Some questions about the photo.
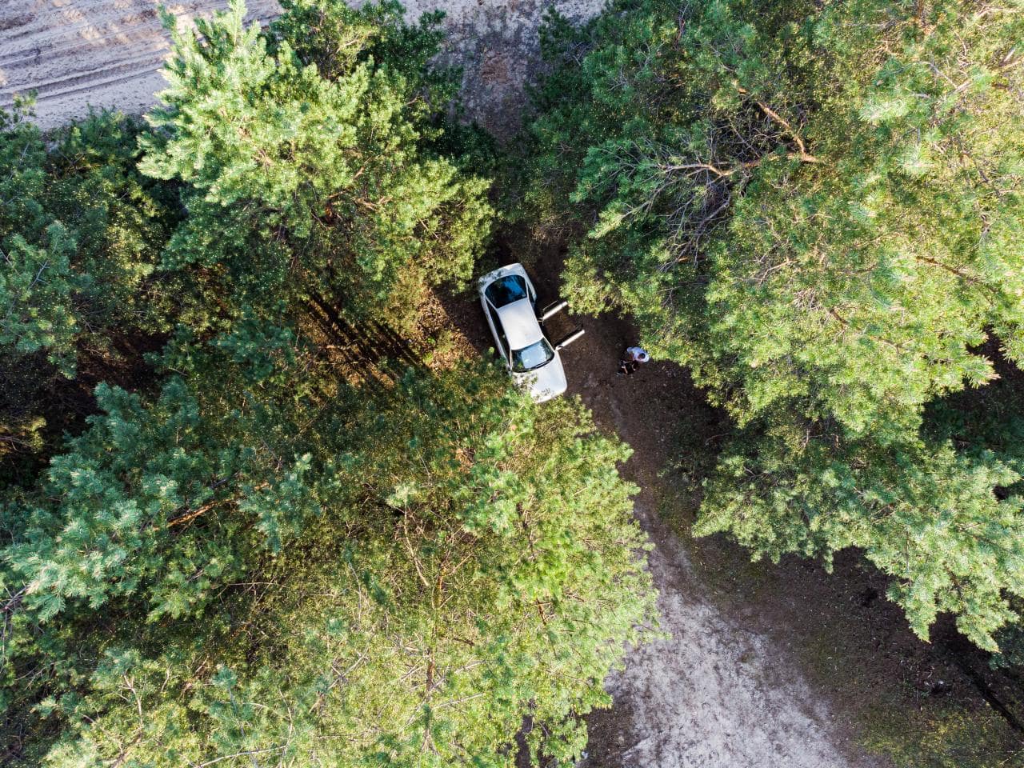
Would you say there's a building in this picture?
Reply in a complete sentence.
No, no building can be seen from above.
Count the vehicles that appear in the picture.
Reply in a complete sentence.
The count comes to 1 vehicle.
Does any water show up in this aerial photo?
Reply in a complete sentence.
No, there's no water in this view.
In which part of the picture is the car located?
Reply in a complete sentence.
You can find the car in the center area of the picture.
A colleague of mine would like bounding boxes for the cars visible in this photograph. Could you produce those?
[478,265,583,403]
